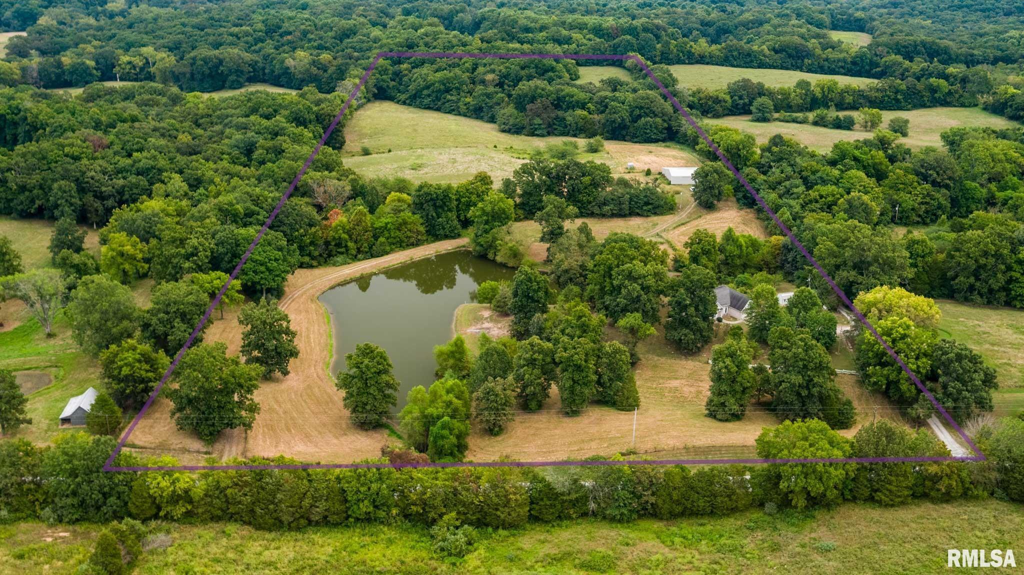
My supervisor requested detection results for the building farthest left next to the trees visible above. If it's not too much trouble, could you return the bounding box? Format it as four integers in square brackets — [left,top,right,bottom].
[55,384,108,426]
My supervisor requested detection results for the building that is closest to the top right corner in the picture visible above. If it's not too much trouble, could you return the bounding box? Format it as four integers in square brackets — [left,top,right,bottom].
[664,166,707,184]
